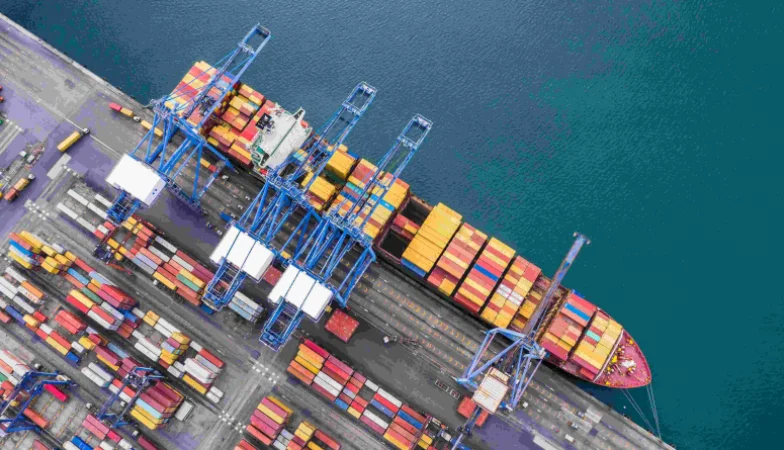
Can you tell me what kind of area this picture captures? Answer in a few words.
port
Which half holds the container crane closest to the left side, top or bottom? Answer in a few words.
bottom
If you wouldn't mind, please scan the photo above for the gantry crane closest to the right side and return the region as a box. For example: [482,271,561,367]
[447,231,594,450]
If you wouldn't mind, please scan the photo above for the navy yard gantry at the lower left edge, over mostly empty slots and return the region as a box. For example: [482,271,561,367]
[0,364,79,446]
